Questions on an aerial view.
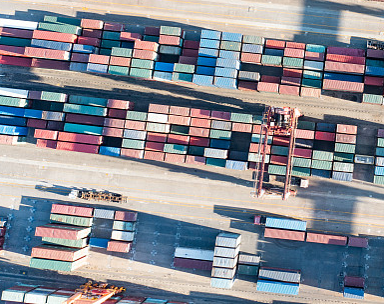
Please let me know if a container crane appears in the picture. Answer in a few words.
Yes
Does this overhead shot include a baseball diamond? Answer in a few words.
No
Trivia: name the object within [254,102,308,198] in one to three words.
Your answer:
container crane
